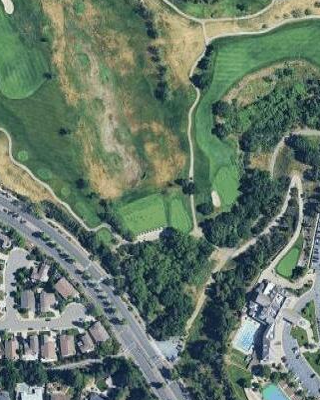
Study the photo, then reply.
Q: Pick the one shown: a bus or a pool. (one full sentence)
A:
It is a pool that can be seen here.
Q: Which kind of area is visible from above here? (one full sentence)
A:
It's a golf course.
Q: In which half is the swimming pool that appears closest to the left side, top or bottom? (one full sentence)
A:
Seen from above, the swimming pool that appears closest to the left side lies in the bottom half of the view.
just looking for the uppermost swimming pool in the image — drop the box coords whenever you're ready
[231,315,261,350]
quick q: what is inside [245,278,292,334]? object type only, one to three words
building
